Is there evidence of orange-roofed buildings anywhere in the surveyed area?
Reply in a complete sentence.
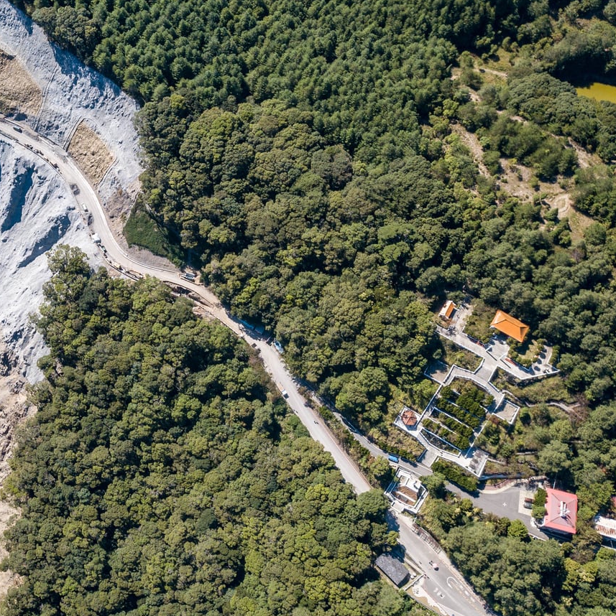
Yes, there is an orange-roofed building in the image.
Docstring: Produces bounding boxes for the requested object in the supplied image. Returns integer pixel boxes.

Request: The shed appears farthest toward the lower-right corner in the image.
[595,516,616,540]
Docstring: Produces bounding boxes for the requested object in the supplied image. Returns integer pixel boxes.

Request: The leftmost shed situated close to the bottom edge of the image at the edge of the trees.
[375,554,410,586]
